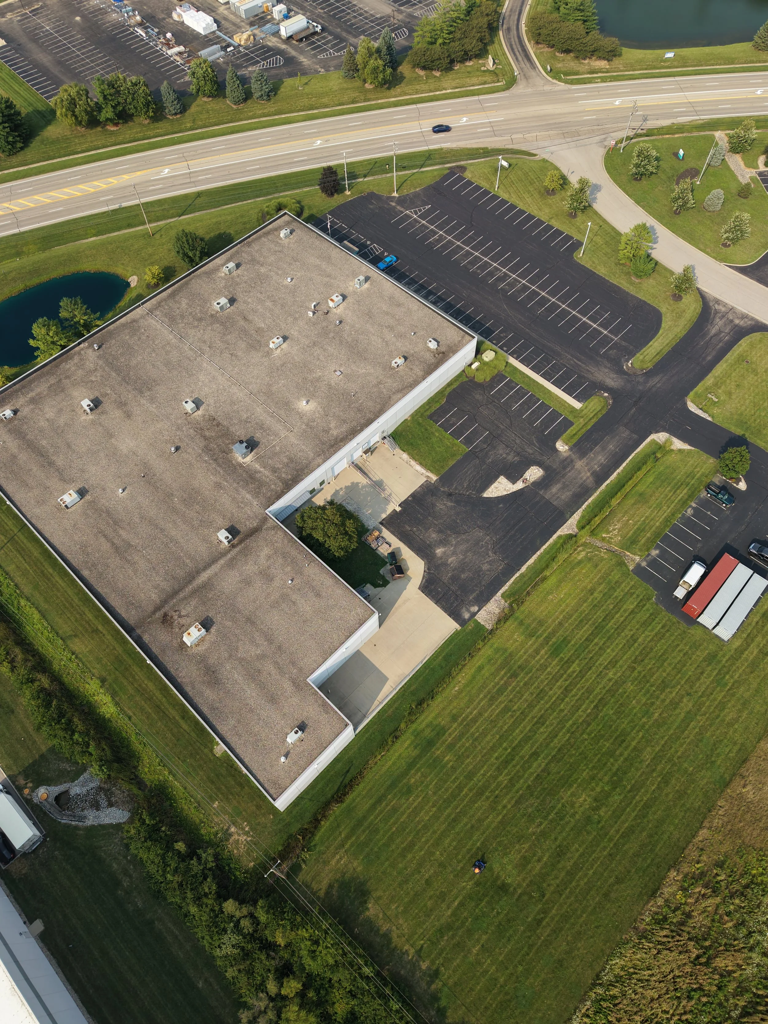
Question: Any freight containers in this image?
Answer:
Yes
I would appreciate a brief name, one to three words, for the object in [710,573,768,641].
shipping container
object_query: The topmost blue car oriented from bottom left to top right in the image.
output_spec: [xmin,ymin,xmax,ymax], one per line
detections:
[378,256,397,270]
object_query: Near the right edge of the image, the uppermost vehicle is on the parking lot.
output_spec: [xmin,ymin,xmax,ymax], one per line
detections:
[705,484,737,508]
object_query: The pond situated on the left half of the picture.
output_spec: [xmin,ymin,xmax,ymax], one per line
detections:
[0,275,126,365]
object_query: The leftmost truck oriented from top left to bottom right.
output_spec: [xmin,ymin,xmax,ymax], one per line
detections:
[0,785,48,857]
